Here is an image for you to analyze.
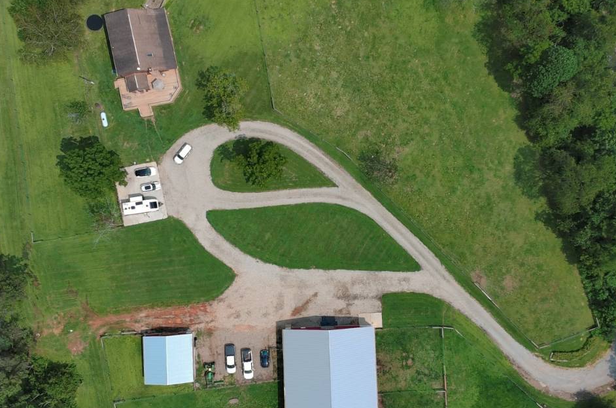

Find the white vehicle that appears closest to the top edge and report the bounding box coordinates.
[174,141,193,166]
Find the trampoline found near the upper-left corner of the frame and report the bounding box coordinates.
[86,14,103,31]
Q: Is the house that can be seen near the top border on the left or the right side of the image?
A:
left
